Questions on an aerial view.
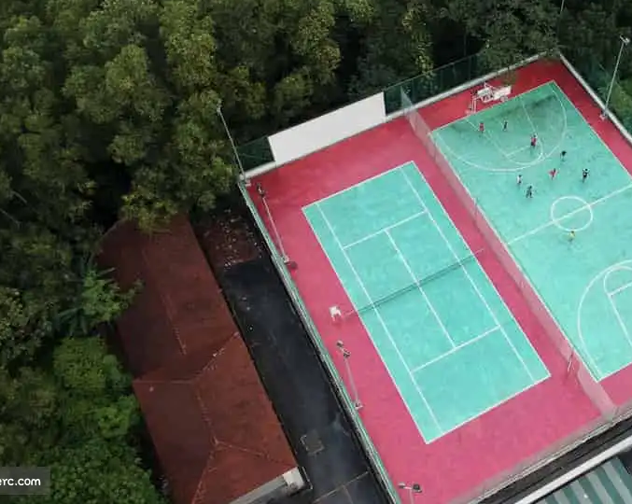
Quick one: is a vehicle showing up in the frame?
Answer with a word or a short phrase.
No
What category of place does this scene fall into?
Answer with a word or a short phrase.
sports ground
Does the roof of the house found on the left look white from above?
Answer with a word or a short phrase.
No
